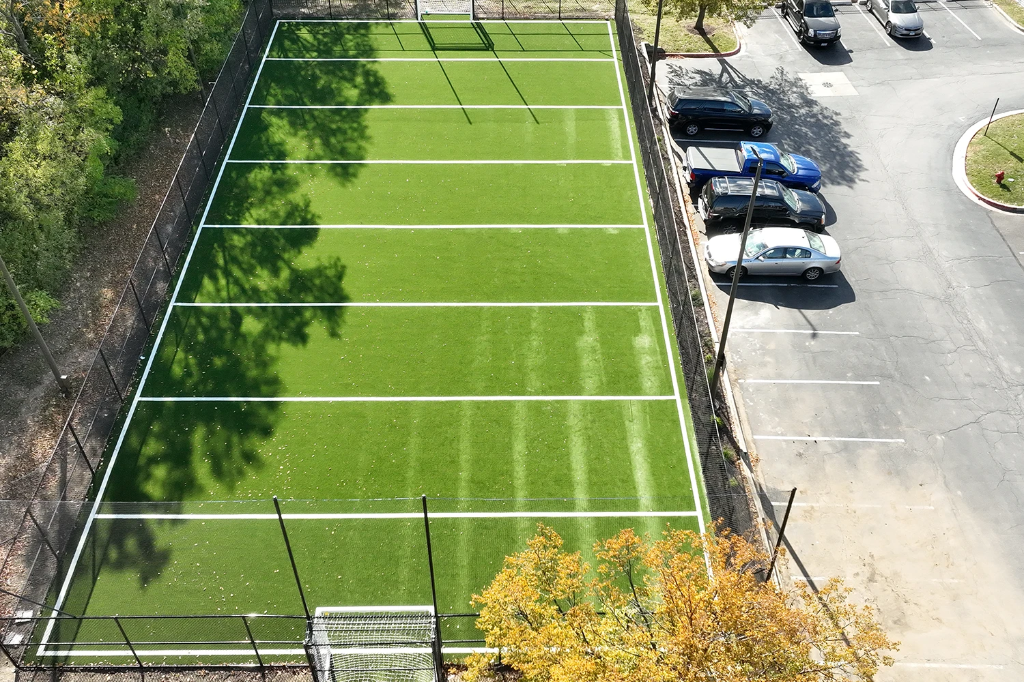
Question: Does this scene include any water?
No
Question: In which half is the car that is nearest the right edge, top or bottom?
top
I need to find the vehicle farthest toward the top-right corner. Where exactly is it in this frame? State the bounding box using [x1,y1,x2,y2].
[870,0,932,36]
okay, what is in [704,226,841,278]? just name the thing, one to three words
car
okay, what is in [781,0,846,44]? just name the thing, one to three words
car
